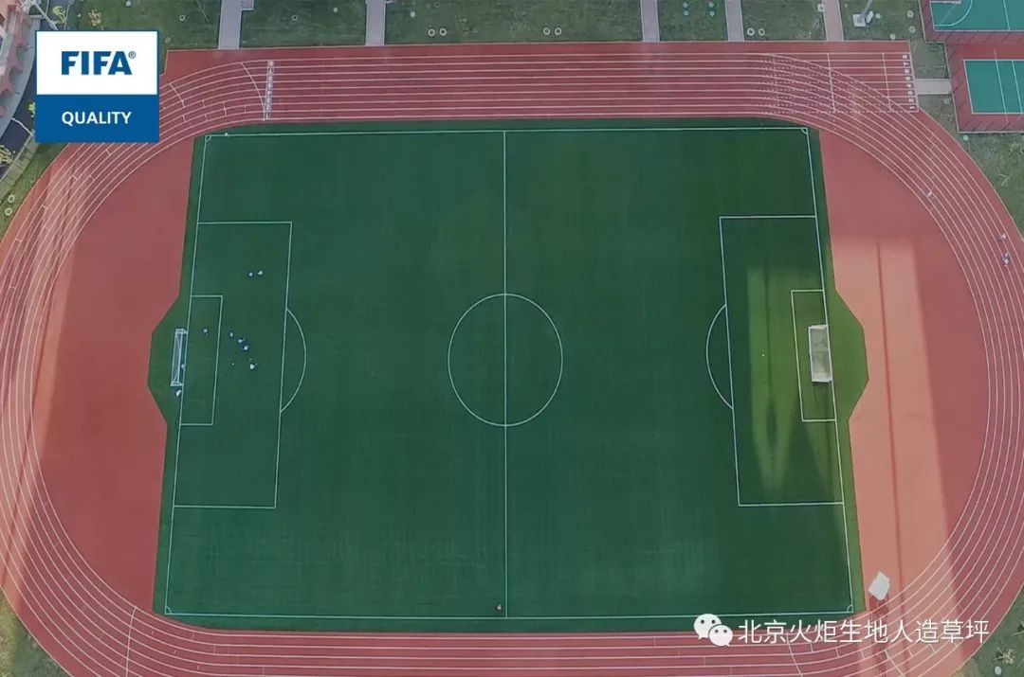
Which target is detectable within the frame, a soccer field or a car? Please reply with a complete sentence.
Visible in the photo is a soccer field.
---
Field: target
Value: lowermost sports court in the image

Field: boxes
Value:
[944,42,1024,132]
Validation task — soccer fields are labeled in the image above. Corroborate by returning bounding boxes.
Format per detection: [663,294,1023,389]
[147,117,868,633]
